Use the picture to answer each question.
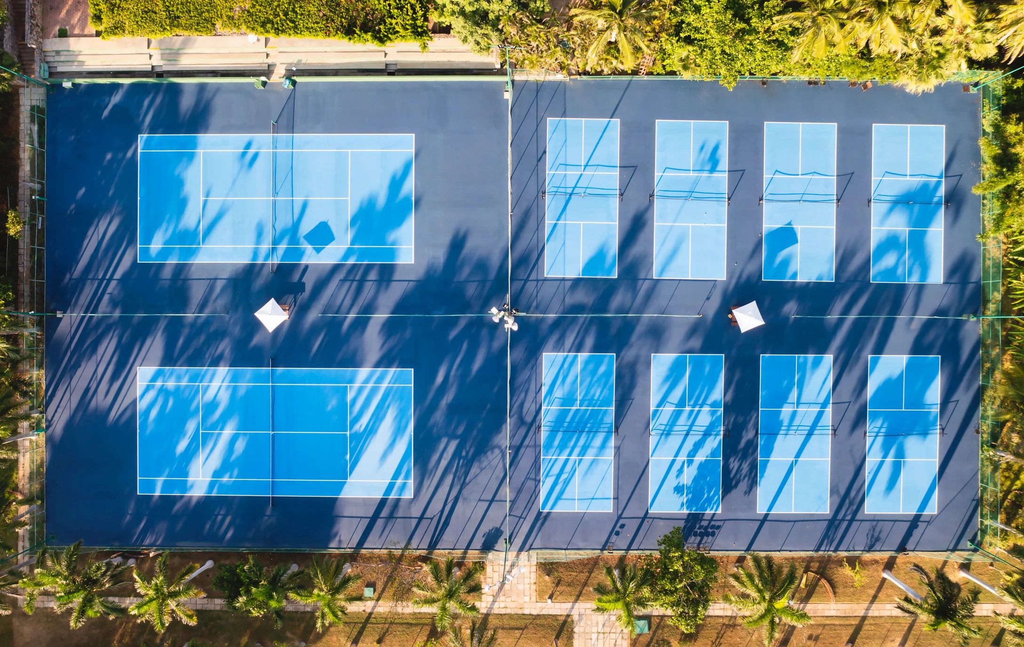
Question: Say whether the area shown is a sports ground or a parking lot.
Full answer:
The area seen from above is a sports ground.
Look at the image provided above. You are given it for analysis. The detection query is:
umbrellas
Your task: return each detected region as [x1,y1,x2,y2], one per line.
[255,298,288,332]
[732,301,765,333]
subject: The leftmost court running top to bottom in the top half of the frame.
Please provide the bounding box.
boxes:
[544,117,620,278]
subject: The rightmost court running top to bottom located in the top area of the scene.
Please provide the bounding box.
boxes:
[870,123,946,284]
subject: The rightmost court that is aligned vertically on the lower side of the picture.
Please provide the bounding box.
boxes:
[865,355,941,514]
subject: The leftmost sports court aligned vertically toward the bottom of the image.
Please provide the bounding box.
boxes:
[540,353,616,513]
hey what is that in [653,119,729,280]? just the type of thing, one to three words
sports court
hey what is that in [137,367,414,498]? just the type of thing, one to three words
tennis court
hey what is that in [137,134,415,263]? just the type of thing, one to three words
tennis court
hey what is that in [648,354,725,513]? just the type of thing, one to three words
sports court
